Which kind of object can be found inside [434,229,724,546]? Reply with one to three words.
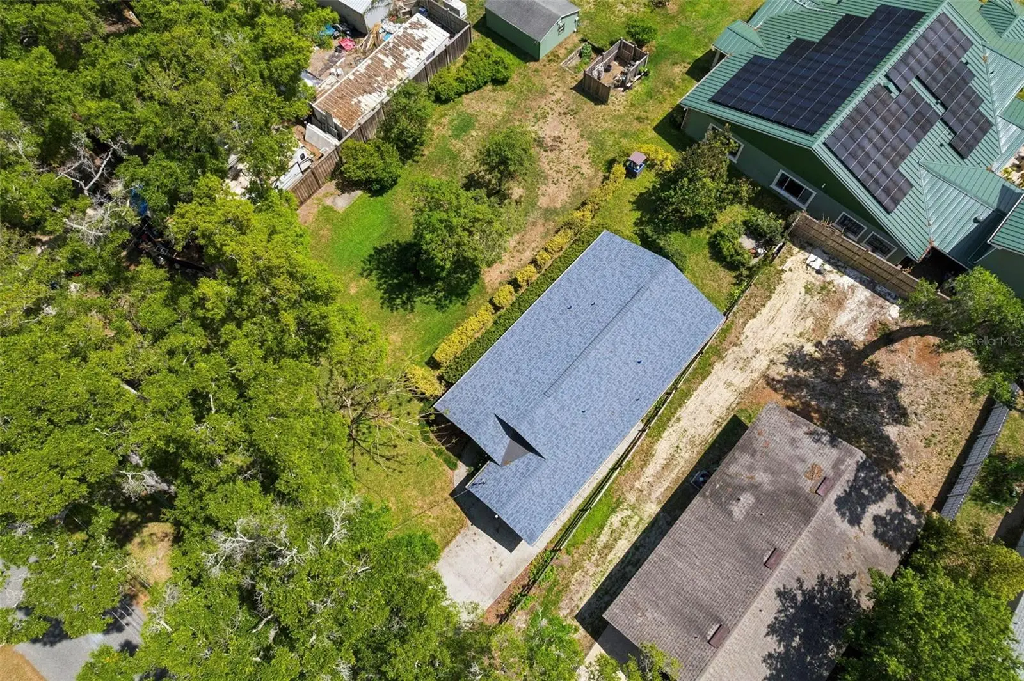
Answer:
house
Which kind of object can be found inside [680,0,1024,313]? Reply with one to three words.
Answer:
building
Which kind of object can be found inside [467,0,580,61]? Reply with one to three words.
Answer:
shed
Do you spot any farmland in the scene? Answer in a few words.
No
